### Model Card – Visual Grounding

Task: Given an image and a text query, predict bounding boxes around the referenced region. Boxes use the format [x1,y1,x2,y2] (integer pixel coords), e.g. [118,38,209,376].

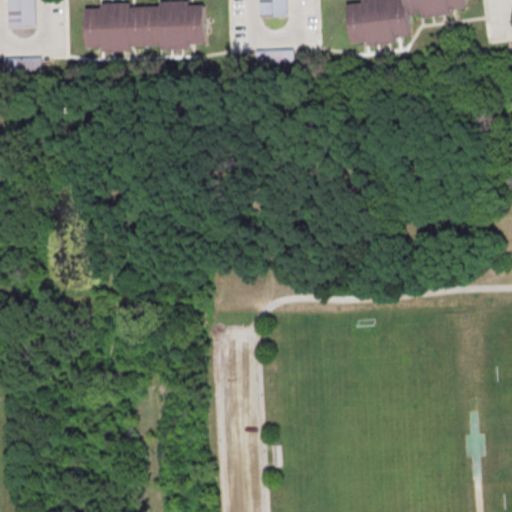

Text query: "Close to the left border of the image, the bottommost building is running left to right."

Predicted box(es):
[4,56,42,71]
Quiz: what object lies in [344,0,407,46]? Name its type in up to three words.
building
